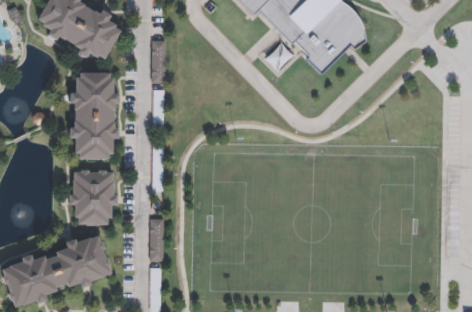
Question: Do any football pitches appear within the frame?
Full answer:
Yes, the frame does contain a football pitch.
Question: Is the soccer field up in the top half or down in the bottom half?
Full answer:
Seen from above, the soccer field lies in the bottom half of the view.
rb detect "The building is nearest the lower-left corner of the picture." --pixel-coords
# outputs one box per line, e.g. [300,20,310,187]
[6,239,112,304]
